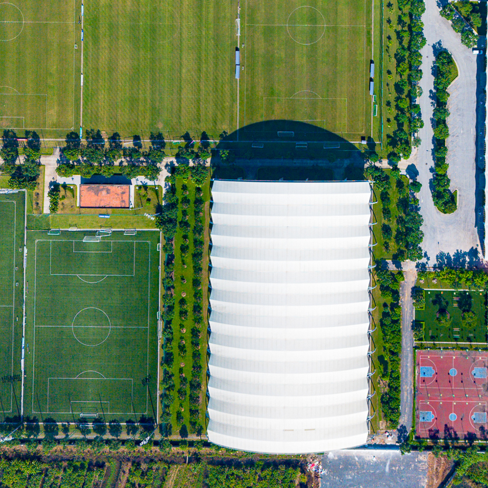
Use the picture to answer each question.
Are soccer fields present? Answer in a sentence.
Yes, a soccer field can be made out from above.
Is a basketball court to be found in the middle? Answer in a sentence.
No, I see no basketball court in the middle.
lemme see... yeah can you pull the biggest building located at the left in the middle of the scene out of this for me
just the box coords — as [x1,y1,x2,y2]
[80,184,134,211]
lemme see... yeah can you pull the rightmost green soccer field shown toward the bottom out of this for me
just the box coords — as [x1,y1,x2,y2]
[23,231,159,423]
